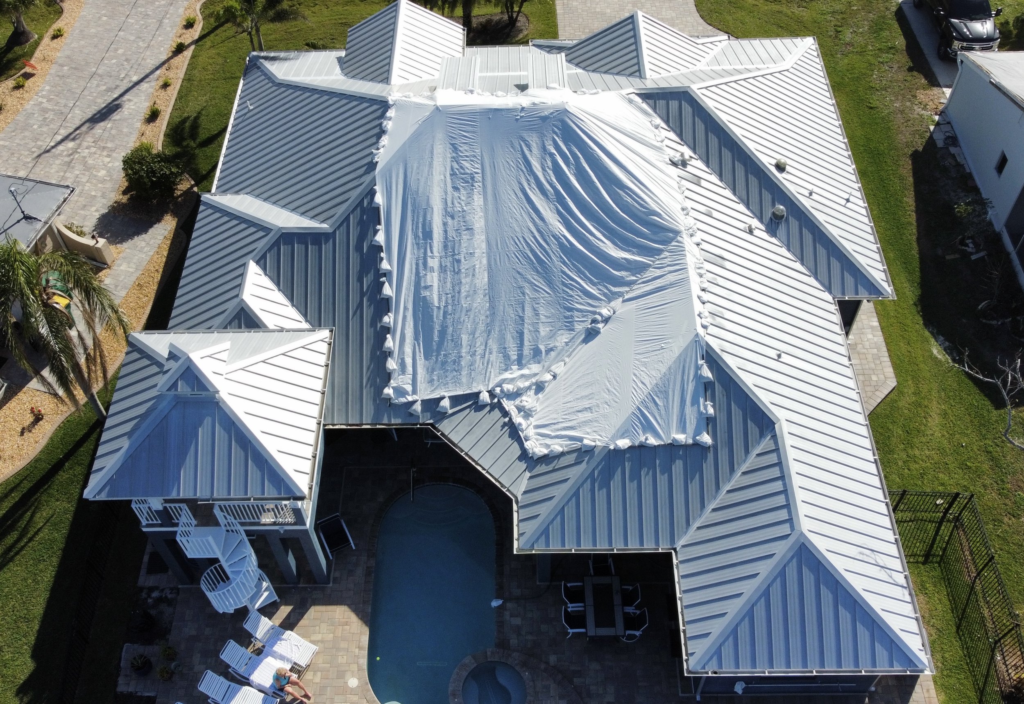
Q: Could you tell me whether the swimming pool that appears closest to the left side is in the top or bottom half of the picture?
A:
bottom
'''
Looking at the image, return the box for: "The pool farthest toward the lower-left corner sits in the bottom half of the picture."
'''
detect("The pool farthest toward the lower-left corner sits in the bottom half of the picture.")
[354,472,508,704]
